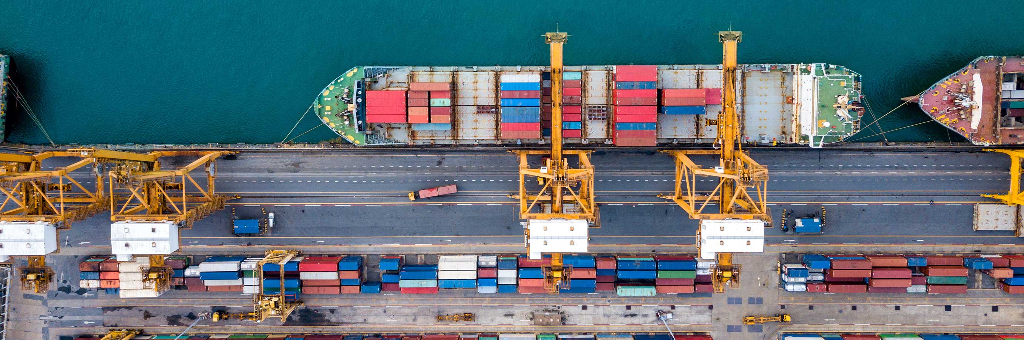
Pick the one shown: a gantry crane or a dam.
gantry crane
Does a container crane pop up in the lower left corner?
Yes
